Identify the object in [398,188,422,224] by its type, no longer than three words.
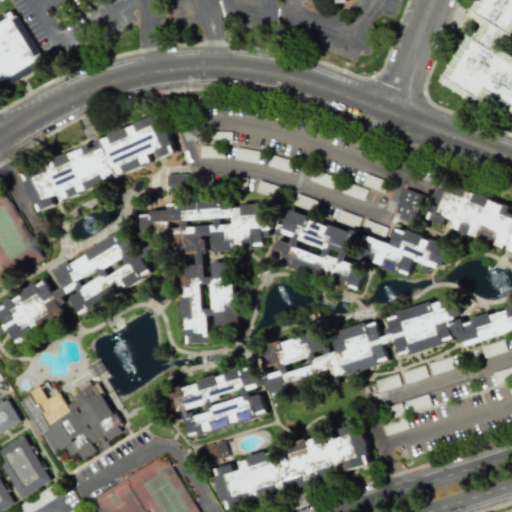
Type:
building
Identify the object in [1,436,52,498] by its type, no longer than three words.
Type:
house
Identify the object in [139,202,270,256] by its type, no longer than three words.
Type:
building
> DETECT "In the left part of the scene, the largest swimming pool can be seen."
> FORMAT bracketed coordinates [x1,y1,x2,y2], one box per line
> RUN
[39,341,82,376]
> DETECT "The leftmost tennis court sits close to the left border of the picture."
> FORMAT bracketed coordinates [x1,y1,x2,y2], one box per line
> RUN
[0,194,40,272]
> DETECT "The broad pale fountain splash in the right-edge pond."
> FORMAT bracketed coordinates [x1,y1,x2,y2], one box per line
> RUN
[486,263,512,298]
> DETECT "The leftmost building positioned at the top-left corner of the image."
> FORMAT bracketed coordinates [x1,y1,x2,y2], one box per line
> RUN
[0,11,41,88]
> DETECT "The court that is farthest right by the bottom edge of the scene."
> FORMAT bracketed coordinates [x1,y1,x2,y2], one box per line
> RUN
[128,459,192,512]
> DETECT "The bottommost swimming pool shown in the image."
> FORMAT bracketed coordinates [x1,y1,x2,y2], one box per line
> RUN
[239,435,264,452]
